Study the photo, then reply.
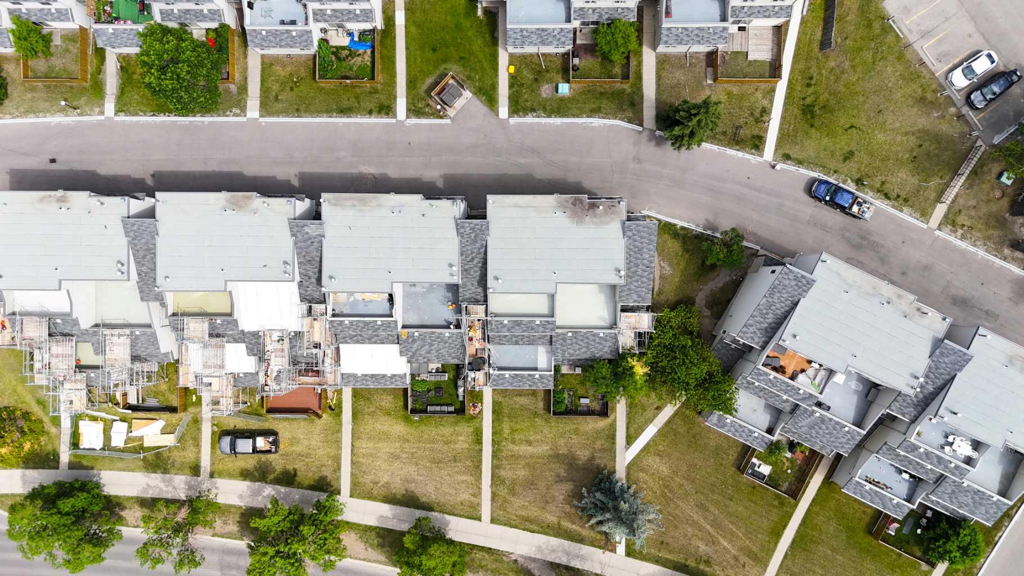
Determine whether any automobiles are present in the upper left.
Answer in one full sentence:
No, the scene shows no automobile in the upper left.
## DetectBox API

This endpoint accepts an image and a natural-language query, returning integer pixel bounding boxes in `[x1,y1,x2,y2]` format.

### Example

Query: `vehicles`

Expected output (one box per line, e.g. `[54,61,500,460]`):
[965,69,1022,113]
[943,48,998,90]
[220,431,282,457]
[806,178,876,224]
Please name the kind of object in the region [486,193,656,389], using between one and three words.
house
